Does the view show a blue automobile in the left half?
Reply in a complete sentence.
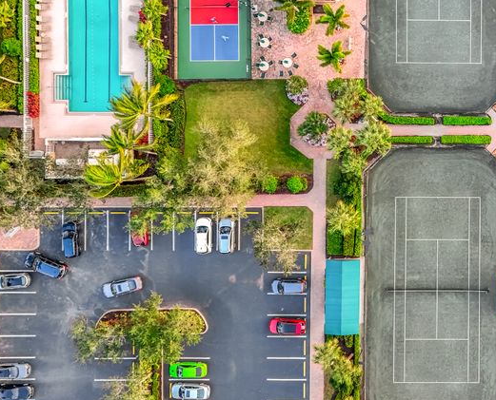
Yes, looking in the left half, one can make out a blue automobile.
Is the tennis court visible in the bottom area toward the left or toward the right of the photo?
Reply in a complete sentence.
The tennis court visible in the bottom area appears in the right half of the scene.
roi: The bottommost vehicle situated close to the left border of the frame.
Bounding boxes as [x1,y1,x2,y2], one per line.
[0,382,34,400]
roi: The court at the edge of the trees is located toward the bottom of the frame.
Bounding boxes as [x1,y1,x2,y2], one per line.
[364,148,496,400]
